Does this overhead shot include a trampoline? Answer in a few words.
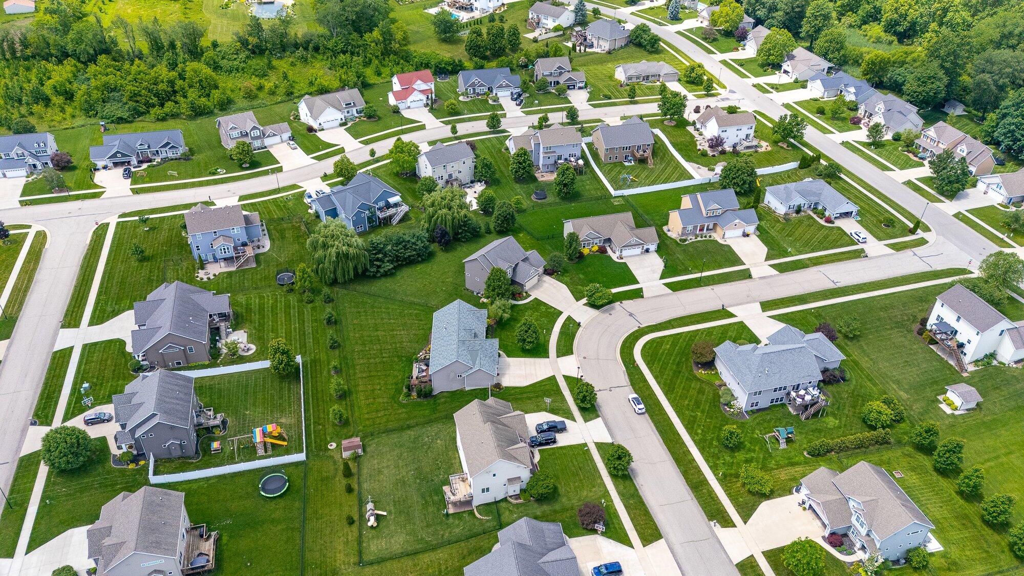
Yes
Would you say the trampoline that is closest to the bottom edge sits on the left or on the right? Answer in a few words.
left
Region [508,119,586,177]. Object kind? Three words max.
house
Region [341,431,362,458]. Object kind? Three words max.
shed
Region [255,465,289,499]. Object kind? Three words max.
trampoline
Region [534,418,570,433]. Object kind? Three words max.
vehicle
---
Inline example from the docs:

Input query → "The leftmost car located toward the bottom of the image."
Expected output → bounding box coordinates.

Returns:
[79,409,114,425]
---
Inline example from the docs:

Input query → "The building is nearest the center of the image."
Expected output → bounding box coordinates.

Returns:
[463,238,547,298]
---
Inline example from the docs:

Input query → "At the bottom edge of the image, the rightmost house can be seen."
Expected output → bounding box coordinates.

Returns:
[798,463,936,560]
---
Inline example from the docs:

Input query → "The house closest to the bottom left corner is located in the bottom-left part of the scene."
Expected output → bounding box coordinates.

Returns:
[86,489,221,576]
